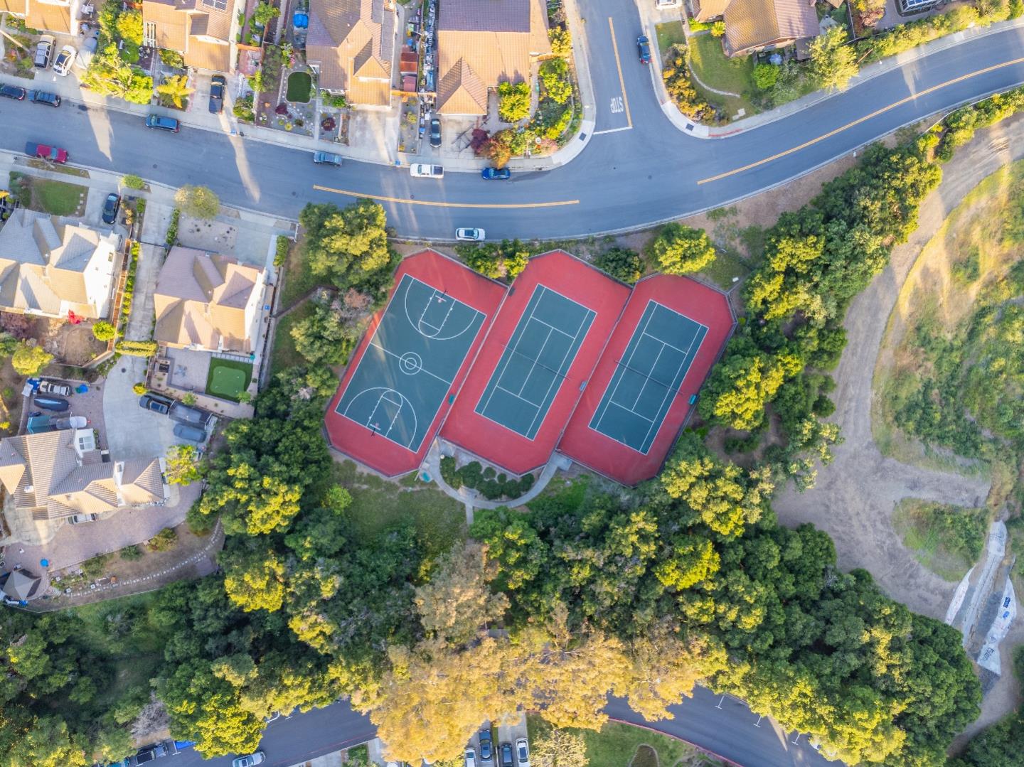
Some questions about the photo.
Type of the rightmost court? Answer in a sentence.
It looks like the rightmost court is a tennis court.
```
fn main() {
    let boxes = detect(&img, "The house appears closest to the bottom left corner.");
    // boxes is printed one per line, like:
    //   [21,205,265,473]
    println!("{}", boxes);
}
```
[0,426,175,520]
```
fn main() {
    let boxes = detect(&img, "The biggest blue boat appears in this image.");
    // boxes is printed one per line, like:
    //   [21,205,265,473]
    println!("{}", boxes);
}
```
[32,396,71,413]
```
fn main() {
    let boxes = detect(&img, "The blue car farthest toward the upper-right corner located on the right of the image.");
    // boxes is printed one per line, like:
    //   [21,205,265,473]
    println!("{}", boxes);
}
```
[636,36,651,65]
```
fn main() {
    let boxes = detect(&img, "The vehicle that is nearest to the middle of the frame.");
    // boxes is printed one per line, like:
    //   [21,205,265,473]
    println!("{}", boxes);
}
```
[455,227,485,241]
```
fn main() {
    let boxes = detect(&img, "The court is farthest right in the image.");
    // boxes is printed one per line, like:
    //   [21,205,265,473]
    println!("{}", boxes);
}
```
[557,273,736,486]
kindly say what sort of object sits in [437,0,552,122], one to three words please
house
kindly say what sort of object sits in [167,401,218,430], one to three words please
trailer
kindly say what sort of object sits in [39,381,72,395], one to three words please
car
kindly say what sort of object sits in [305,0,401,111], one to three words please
house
